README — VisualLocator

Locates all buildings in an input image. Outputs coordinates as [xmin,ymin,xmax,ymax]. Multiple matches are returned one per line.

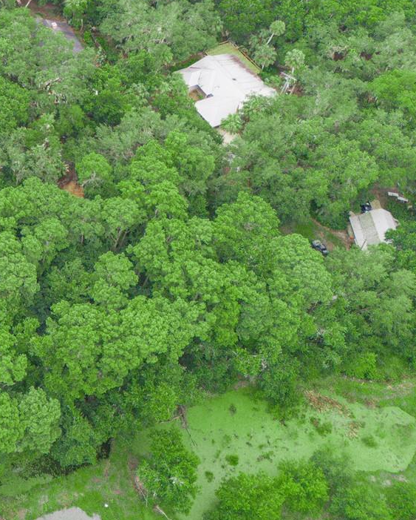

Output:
[343,208,398,258]
[173,53,277,133]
